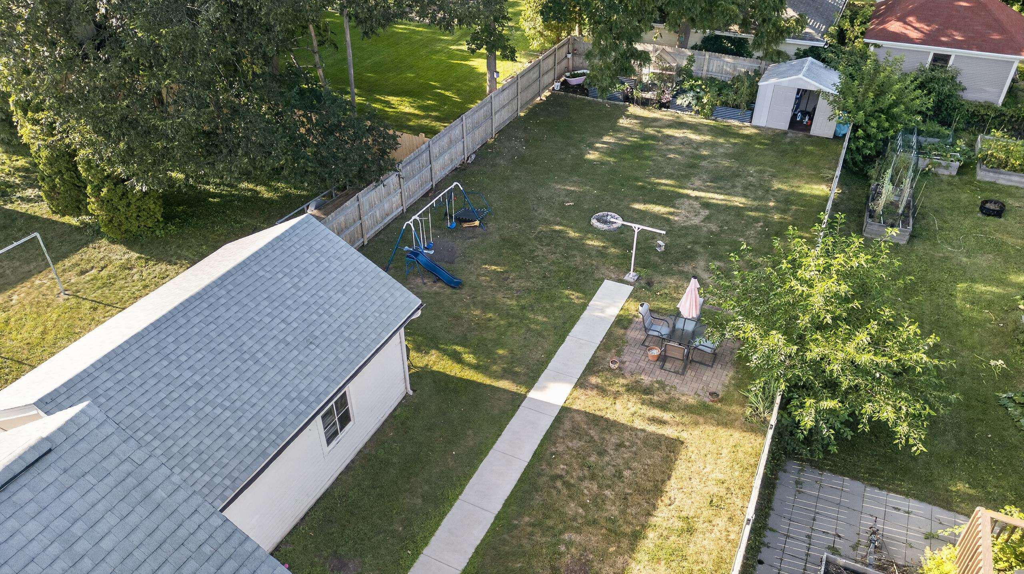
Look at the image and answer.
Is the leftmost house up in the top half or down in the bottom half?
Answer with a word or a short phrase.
bottom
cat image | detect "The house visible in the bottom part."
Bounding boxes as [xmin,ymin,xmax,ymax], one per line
[0,216,438,574]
